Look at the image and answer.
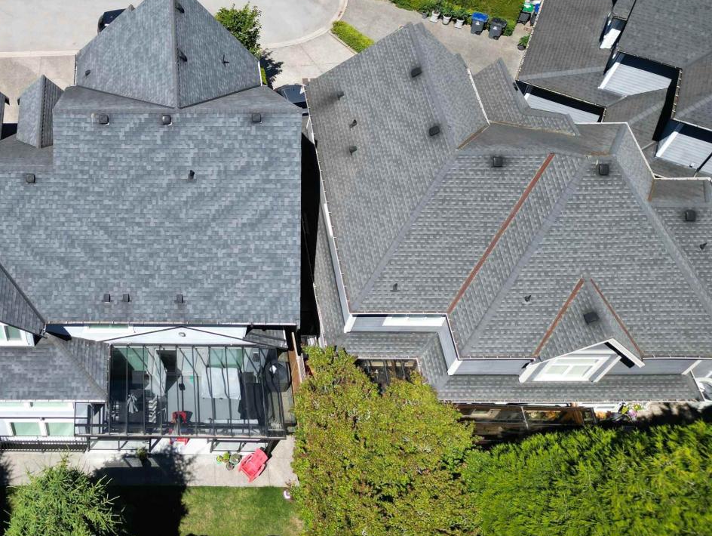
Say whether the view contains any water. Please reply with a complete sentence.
No, the picture contains no water.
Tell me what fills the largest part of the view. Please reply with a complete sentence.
Most of the picture is covered by buildings.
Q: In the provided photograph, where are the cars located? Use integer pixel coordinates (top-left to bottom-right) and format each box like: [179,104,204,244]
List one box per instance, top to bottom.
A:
[97,0,138,32]
[272,78,308,132]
